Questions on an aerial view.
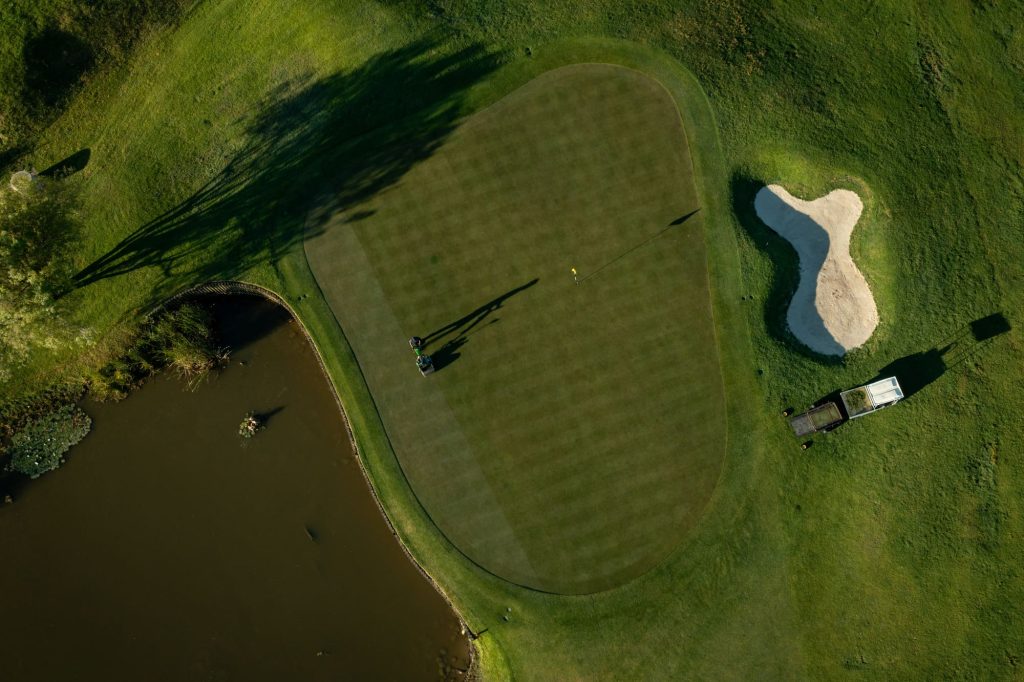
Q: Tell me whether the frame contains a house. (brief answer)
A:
No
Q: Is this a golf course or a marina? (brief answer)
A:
golf course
